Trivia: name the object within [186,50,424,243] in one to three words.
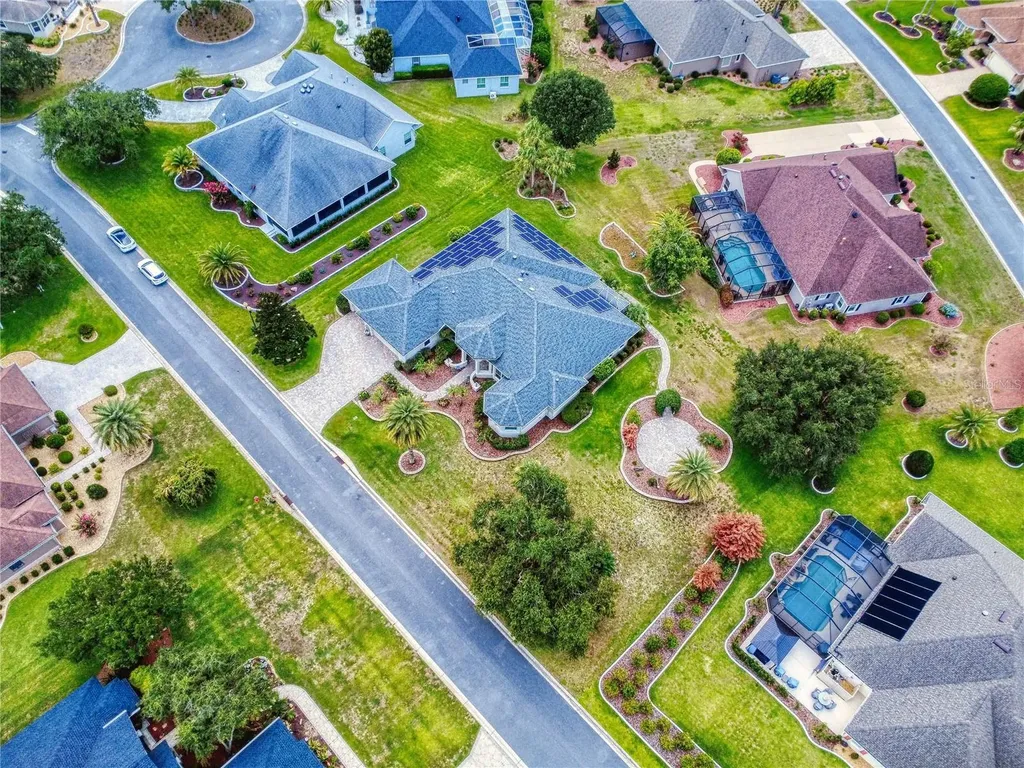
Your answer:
house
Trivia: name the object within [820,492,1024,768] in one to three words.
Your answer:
house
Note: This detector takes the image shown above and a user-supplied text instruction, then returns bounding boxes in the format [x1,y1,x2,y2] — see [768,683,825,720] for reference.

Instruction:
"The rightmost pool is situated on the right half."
[780,552,848,633]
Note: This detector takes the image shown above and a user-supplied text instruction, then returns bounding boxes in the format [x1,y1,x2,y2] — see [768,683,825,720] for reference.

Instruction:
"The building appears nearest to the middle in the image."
[339,208,641,436]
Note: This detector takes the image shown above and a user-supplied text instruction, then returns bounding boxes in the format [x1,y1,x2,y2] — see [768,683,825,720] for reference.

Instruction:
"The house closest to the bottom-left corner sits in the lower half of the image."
[0,676,189,768]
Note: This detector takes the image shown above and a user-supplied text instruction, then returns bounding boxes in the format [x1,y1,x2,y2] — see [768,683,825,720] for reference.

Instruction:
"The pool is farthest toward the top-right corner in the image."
[715,234,769,293]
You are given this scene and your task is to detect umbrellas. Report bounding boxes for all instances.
[751,614,800,668]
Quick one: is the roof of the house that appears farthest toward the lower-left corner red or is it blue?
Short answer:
blue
